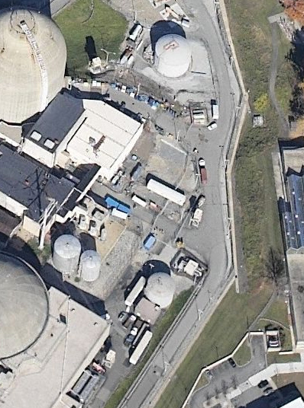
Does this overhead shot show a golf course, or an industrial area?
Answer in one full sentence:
What you see here is an industrial area.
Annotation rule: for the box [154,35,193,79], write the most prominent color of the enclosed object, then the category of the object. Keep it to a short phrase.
white storage tank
